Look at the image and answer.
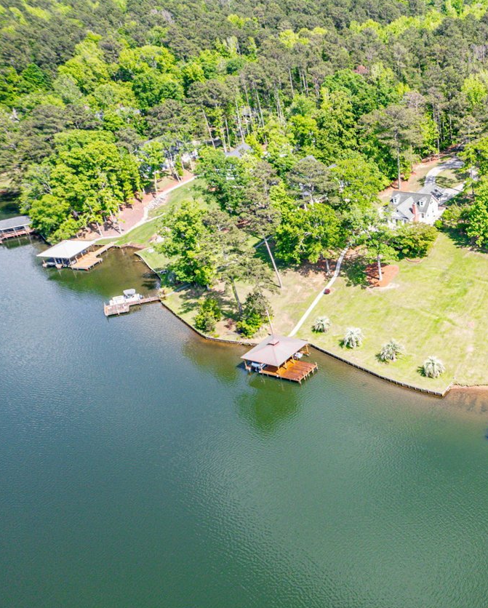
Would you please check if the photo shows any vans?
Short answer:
No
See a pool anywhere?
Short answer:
No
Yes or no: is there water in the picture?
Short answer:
Yes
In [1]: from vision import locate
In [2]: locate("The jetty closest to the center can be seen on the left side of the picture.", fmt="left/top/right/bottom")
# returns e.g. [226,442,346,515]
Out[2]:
[107,297,161,319]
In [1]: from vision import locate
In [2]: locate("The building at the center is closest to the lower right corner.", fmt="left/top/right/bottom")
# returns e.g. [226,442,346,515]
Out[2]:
[241,333,323,386]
